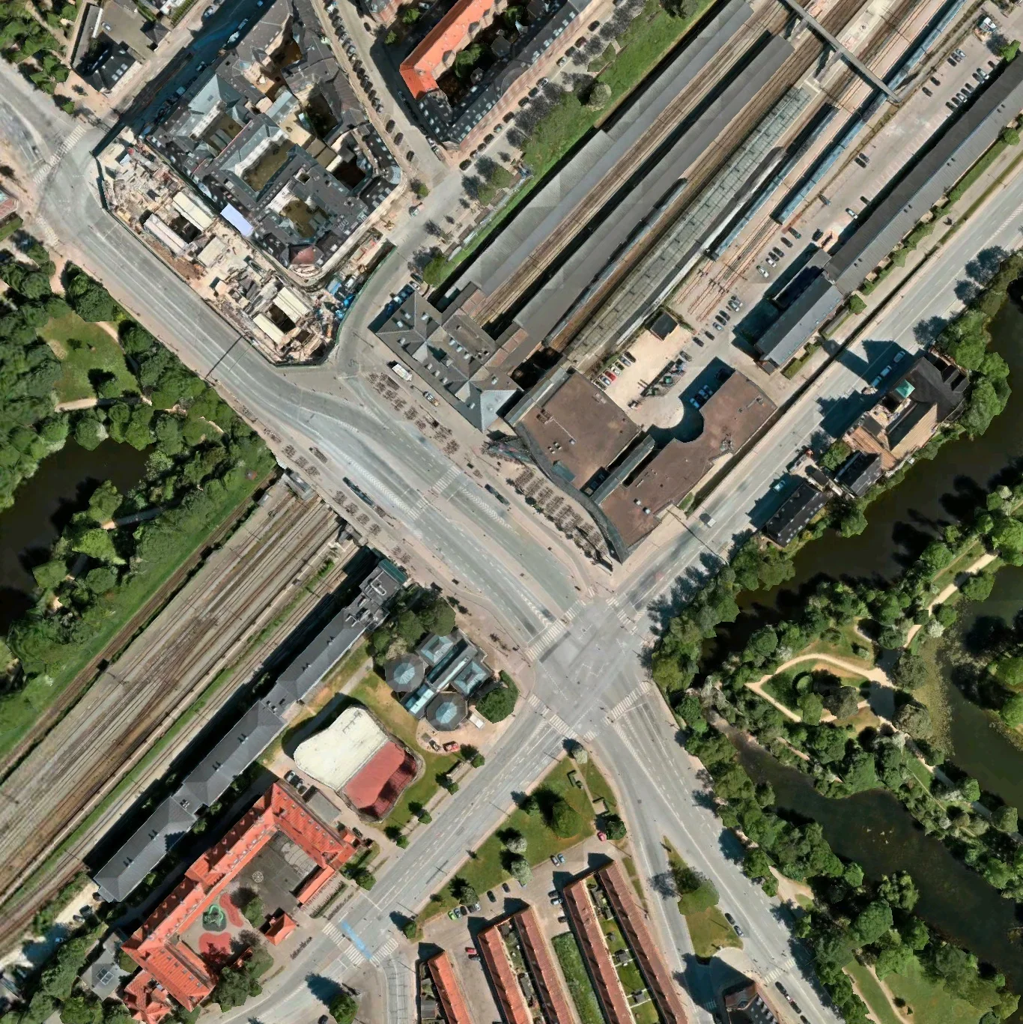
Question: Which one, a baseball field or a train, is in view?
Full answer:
I can see a train in this picture.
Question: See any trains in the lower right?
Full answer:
No, there is no train in the lower right.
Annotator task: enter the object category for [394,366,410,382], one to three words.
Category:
vehicle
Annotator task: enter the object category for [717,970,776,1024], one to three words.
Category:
house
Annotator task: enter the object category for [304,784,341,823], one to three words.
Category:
building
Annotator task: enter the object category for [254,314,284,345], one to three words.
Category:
shed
